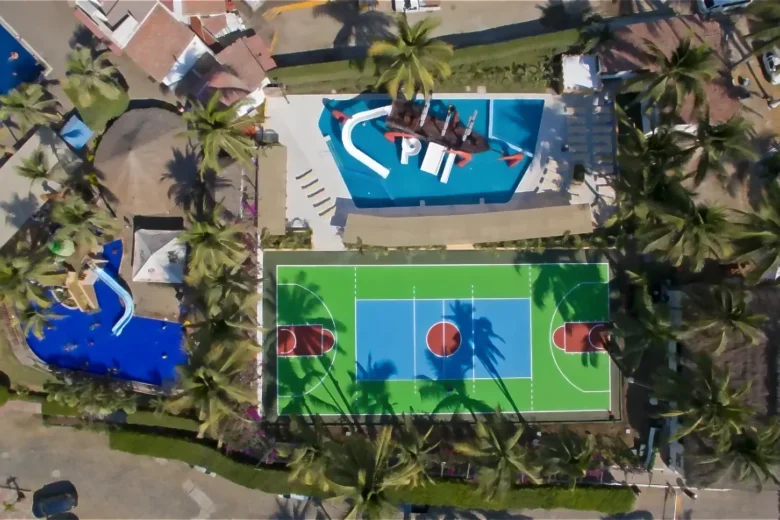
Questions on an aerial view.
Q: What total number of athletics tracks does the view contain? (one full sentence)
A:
The photo contains no athletics tracks.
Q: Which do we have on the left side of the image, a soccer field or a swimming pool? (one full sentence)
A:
The one visible on the left side of the image is a swimming pool.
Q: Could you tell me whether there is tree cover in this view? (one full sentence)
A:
Yes, there's tree cover in this view.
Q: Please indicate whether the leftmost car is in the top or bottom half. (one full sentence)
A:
The leftmost car is in the bottom half of the image.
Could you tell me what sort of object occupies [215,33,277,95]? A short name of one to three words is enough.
house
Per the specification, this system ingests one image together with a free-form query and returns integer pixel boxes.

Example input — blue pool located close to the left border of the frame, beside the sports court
[21,235,189,388]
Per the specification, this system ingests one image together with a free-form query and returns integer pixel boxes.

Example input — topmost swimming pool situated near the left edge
[0,24,53,116]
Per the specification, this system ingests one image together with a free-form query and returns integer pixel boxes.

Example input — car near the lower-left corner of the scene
[30,487,81,518]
